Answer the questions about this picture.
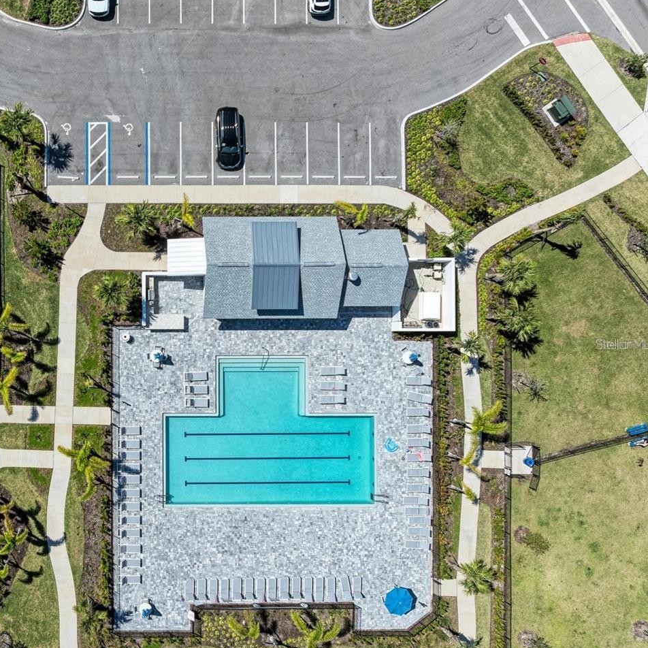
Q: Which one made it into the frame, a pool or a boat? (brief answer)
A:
pool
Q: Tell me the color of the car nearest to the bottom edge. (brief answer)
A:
black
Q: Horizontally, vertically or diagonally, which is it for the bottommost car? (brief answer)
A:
vertically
